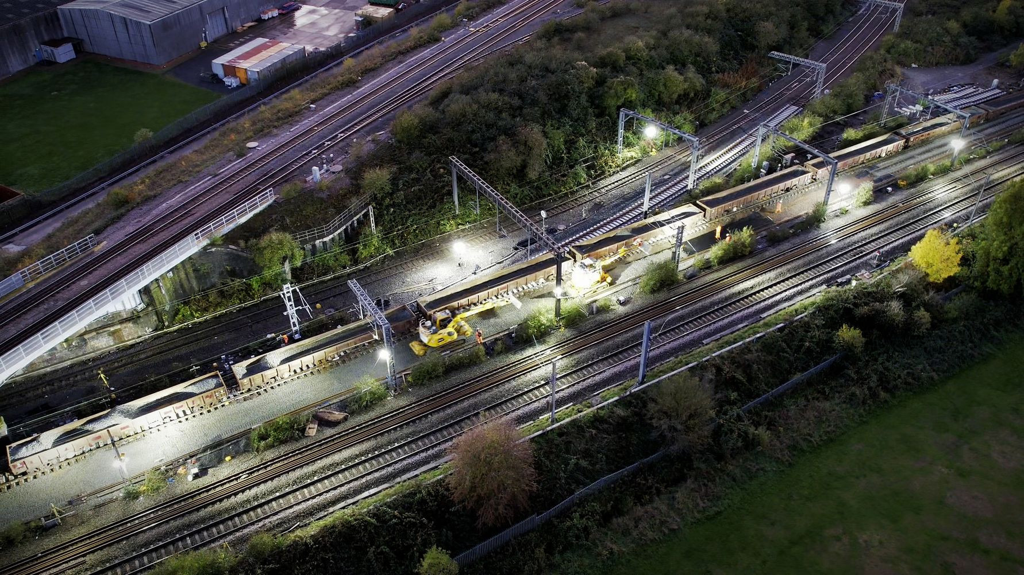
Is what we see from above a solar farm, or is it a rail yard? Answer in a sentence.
The area seen from above is a rail yard.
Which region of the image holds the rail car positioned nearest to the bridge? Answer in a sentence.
The rail car positioned nearest to the bridge sits in the bottom left section of the image.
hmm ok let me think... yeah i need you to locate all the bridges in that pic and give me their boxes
[0,190,282,387]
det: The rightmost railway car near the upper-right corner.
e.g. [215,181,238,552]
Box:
[966,80,1024,120]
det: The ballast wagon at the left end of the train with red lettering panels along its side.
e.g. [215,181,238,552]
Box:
[5,367,235,475]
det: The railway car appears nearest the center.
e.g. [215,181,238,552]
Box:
[411,248,574,324]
